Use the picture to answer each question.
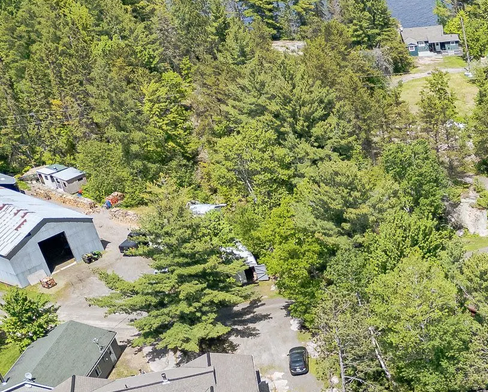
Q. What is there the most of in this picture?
trees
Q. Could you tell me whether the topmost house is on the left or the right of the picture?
right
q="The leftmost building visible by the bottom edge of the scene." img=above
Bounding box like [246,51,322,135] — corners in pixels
[0,322,119,392]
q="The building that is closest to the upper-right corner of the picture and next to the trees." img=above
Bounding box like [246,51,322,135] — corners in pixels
[404,25,472,58]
